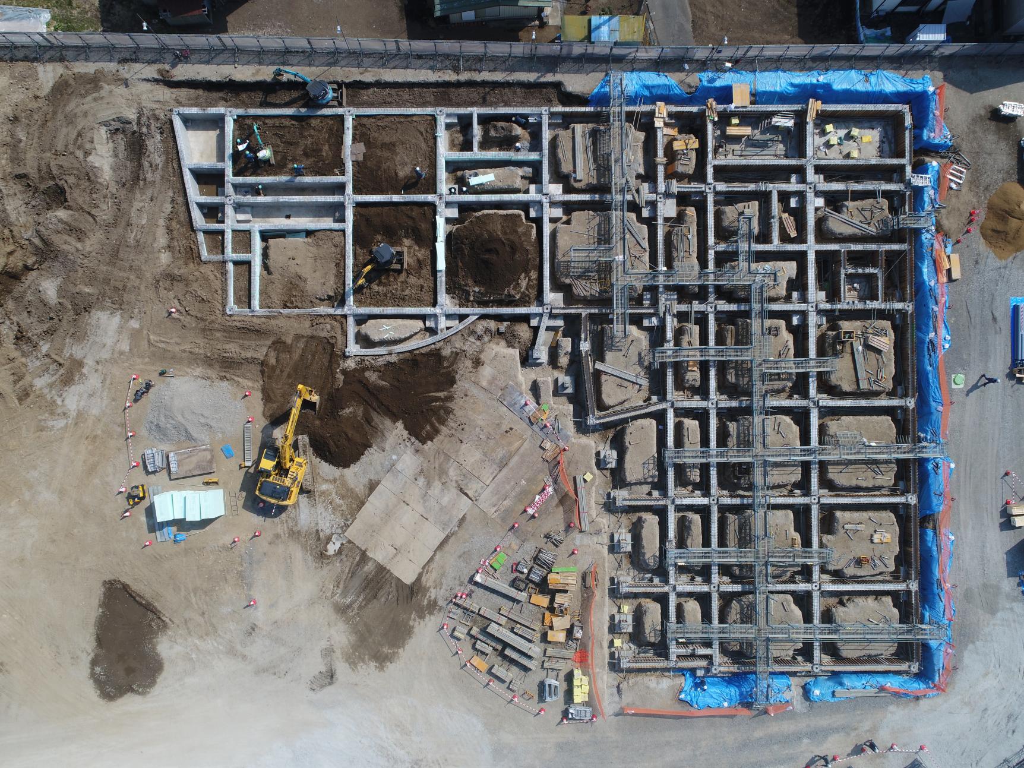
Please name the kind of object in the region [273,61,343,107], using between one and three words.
work vehicle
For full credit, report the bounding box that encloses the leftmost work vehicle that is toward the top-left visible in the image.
[251,119,283,167]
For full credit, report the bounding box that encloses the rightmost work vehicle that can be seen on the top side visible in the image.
[353,242,412,296]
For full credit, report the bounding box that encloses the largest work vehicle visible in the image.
[250,380,325,507]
